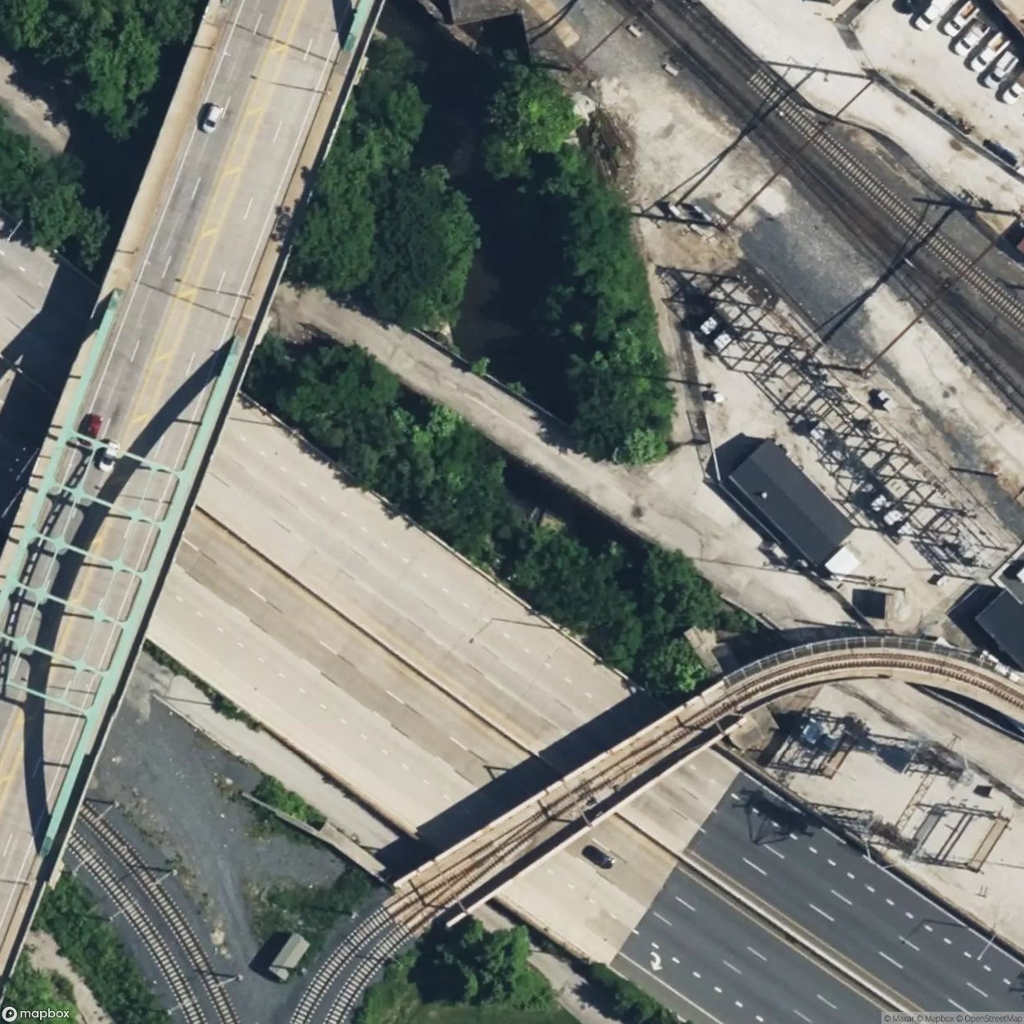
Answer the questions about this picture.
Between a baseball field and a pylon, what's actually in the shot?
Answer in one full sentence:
The one in the frame is a pylon.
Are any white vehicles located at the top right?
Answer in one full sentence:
Yes, a white vehicle is visible at the top right.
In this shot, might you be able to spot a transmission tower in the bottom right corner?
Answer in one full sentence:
Yes, a transmission tower can be seen in the bottom right corner.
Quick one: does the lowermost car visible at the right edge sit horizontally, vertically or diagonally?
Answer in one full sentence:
The lowermost car visible at the right edge is oriented diagonally.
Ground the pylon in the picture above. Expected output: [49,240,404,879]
[830,804,899,856]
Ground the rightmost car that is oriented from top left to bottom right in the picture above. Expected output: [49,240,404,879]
[984,139,1017,167]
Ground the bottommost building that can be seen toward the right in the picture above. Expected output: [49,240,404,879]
[975,590,1024,668]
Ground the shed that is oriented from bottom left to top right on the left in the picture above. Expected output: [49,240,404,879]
[270,934,310,980]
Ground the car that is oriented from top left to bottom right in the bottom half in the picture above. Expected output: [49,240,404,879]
[583,843,617,871]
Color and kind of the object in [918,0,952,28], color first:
white truck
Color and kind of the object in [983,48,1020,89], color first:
white truck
